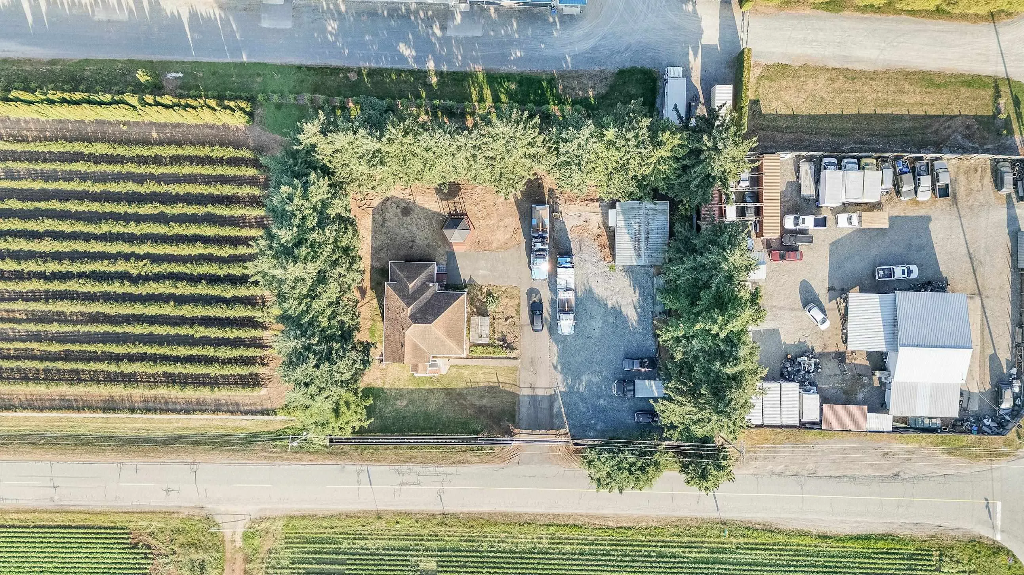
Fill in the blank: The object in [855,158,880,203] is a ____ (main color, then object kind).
white truck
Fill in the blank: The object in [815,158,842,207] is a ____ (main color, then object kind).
white truck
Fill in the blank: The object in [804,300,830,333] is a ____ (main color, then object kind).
white car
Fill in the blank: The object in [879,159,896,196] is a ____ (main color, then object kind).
white vehicle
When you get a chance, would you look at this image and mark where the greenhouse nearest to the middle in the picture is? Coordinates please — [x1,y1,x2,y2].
[470,317,490,343]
